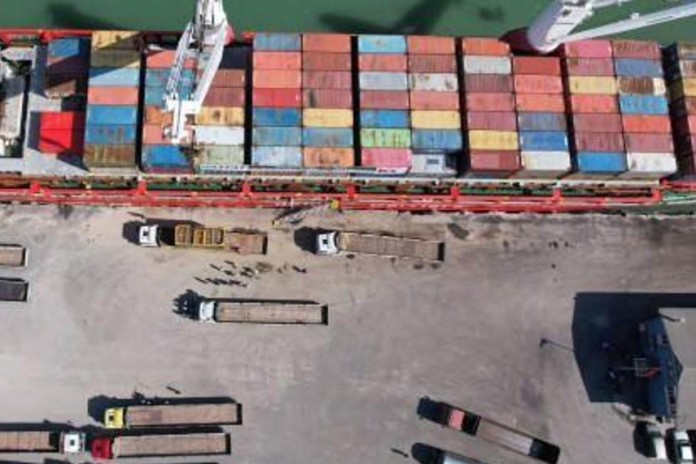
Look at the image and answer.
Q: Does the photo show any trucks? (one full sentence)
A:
Yes, a truck can be made out from above.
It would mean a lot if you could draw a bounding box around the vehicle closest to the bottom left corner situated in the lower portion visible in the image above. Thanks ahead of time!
[0,427,91,454]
